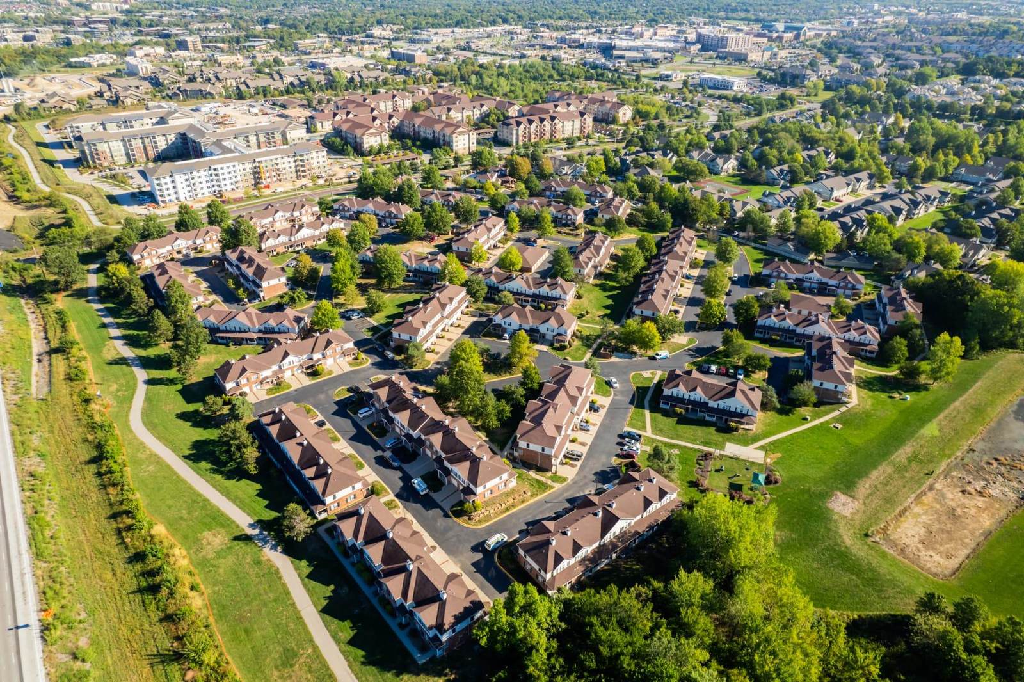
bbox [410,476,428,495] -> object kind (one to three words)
car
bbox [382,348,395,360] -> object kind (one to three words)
vehicle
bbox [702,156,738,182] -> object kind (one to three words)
house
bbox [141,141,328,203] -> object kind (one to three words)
building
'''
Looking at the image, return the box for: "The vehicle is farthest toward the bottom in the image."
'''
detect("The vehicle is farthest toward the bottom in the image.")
[482,532,509,552]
